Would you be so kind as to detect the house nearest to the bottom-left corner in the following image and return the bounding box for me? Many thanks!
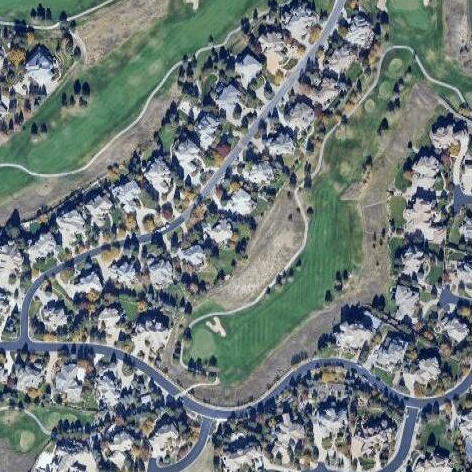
[45,444,91,472]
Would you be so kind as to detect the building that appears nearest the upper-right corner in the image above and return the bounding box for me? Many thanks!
[340,14,380,53]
